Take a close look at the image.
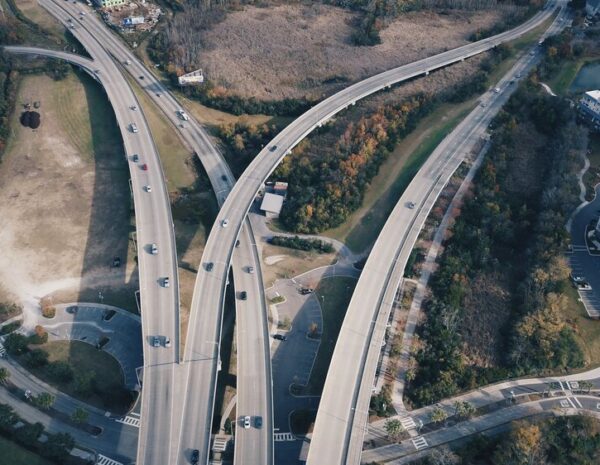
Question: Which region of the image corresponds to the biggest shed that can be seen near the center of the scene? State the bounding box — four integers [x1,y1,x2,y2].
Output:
[259,193,285,217]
